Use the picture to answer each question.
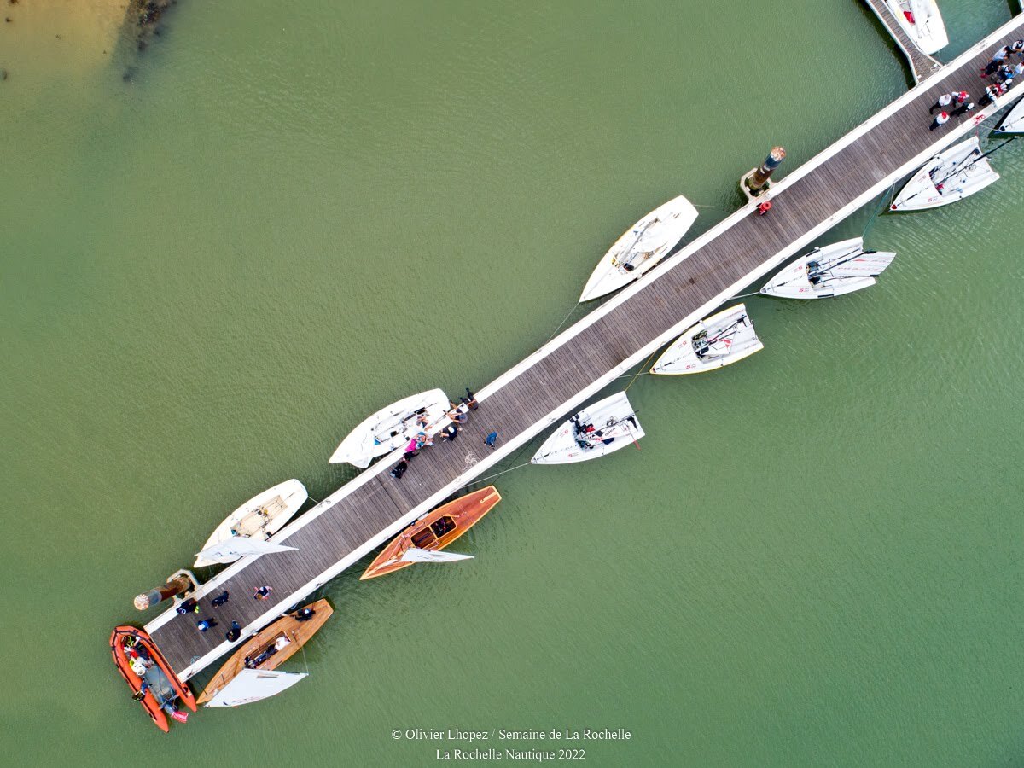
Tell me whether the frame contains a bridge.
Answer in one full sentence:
No, I can see no bridge in this picture.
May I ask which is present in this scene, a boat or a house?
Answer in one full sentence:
It is a boat that can be seen here.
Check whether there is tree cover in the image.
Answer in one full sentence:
No, the picture contains no tree cover.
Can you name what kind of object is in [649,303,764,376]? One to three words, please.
boat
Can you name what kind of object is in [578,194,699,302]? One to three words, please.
boat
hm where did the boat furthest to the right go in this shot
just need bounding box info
[998,98,1024,136]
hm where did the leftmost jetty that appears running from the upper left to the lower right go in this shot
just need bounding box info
[864,0,945,86]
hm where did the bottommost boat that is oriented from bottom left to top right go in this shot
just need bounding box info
[197,598,335,706]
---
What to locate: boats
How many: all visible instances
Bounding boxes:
[328,389,451,467]
[760,236,896,300]
[578,194,699,302]
[194,480,311,568]
[112,626,196,732]
[530,391,645,465]
[998,98,1024,136]
[889,135,1016,212]
[359,485,501,580]
[649,303,764,376]
[197,598,335,706]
